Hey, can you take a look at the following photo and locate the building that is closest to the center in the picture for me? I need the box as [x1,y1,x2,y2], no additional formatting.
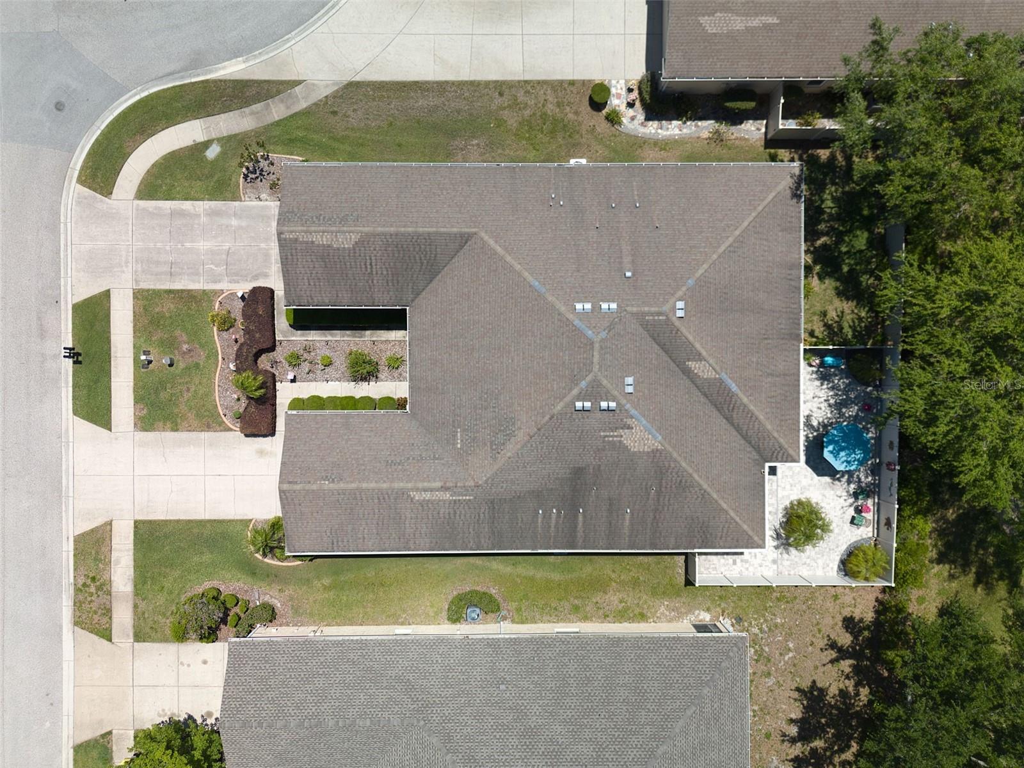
[274,161,805,555]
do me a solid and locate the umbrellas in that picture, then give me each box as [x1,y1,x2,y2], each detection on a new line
[822,423,871,471]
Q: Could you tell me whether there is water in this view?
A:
No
